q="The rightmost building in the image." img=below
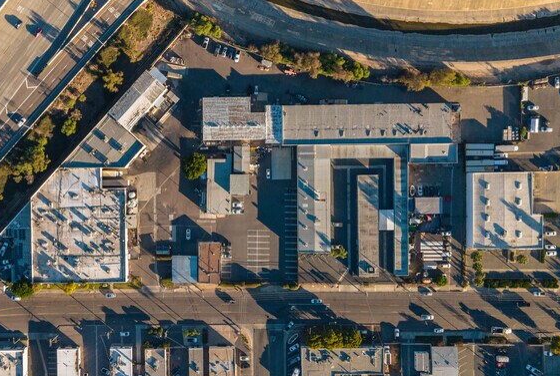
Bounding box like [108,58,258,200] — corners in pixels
[467,172,544,249]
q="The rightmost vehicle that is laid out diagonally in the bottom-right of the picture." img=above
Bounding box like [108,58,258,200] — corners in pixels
[526,364,542,376]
